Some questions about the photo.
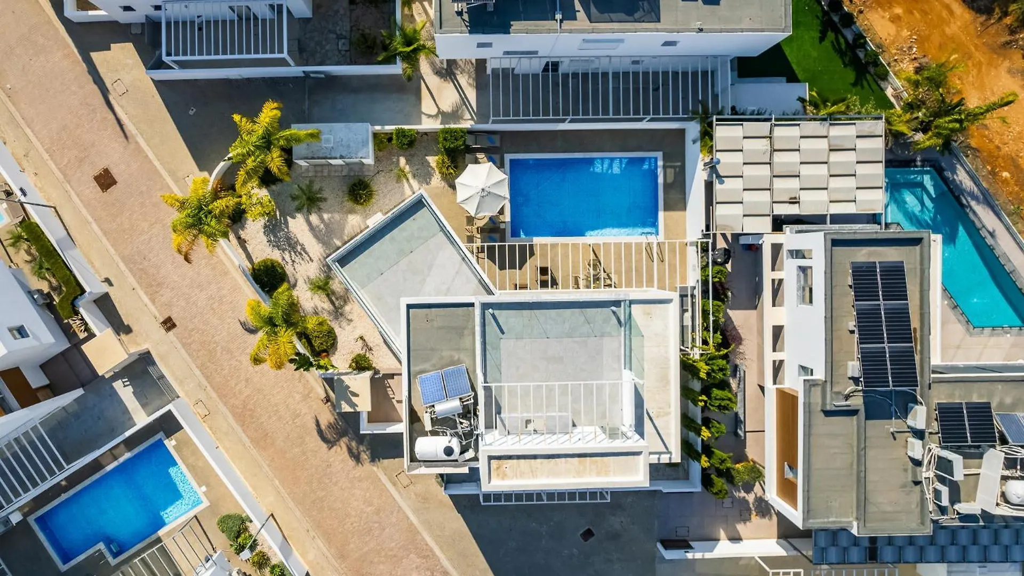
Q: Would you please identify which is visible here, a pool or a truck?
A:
pool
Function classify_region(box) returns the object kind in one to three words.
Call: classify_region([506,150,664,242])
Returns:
swimming pool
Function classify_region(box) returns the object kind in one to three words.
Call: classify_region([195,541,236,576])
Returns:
building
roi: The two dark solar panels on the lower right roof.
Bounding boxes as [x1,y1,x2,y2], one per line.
[932,402,997,445]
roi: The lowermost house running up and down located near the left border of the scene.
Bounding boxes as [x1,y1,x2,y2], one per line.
[0,257,69,410]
